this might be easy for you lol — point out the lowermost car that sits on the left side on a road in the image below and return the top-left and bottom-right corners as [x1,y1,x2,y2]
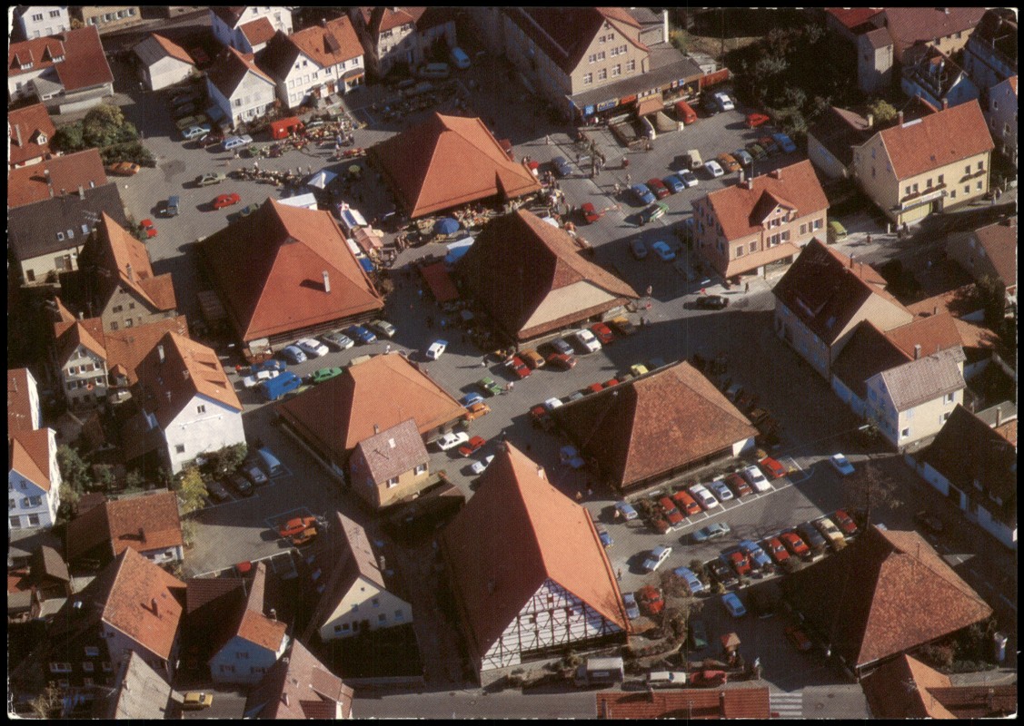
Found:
[176,692,219,711]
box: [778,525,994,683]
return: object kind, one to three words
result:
building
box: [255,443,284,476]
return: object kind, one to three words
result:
van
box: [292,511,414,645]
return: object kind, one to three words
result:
house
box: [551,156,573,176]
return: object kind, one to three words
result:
car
